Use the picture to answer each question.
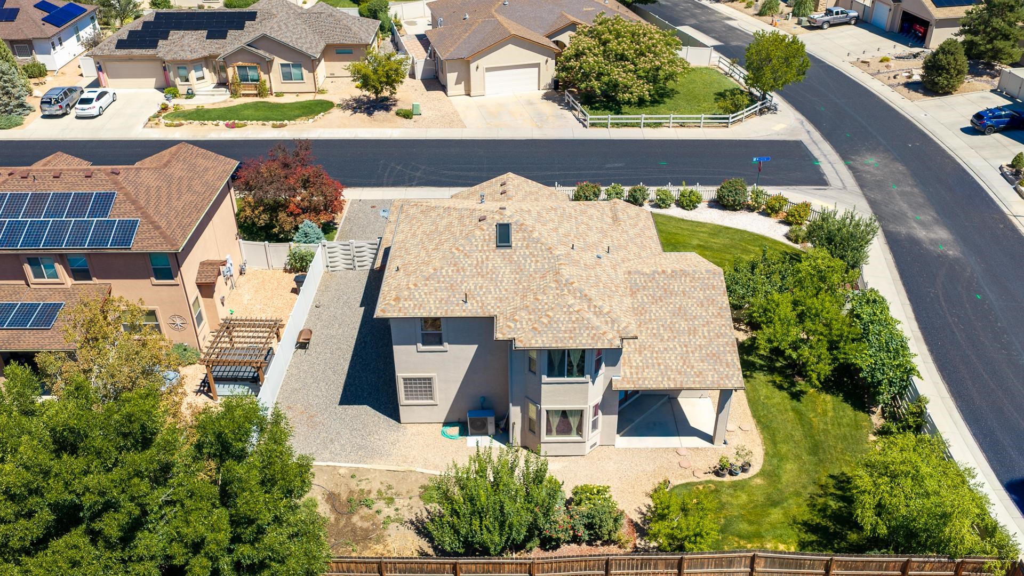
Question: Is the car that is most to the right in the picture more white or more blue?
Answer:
blue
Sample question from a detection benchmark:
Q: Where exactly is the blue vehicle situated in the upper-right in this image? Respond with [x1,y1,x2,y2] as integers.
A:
[969,103,1024,132]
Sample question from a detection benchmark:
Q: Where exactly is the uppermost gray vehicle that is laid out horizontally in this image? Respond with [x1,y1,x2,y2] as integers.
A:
[811,5,861,28]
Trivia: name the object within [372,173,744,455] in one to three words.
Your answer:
house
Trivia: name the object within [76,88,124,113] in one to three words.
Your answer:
car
